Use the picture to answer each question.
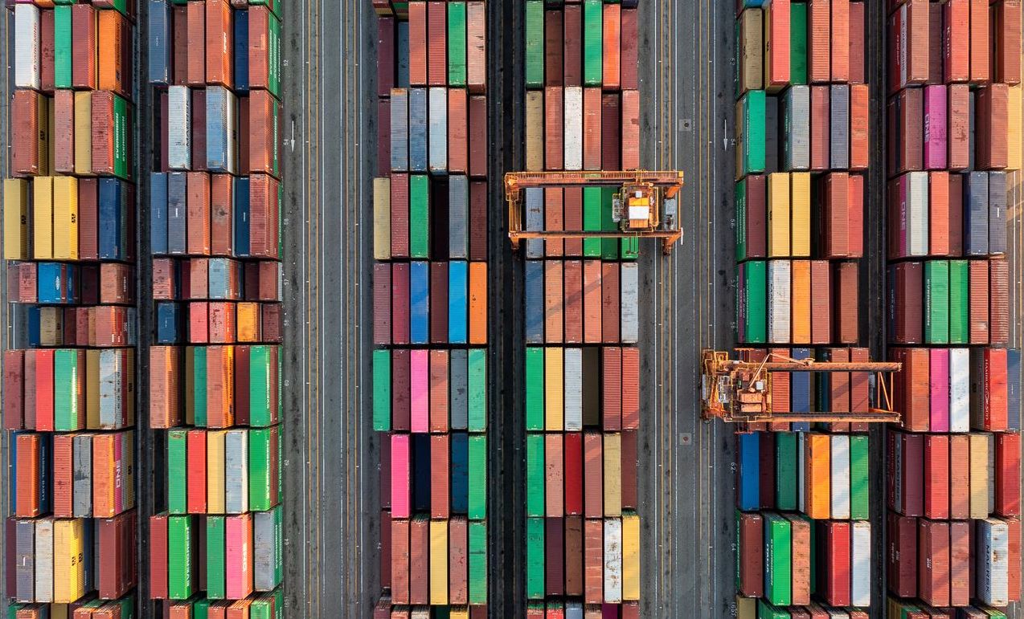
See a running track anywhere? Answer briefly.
No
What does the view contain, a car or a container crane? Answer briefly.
container crane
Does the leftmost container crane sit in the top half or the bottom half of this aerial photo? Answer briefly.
top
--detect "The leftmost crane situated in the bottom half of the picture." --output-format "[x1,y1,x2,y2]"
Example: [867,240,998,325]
[698,346,905,432]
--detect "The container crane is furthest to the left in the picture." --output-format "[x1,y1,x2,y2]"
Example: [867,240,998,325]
[502,167,686,256]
